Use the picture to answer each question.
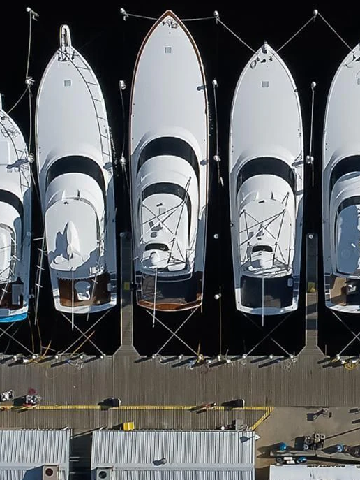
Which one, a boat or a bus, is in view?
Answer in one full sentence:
The one in the frame is a boat.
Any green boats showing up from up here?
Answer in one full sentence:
No, I can see no green boat in this picture.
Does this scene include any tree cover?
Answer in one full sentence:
No, tree cover can't be seen anywhere here.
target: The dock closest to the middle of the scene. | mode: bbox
[110,232,145,355]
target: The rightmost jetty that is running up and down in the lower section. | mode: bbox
[296,232,328,355]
